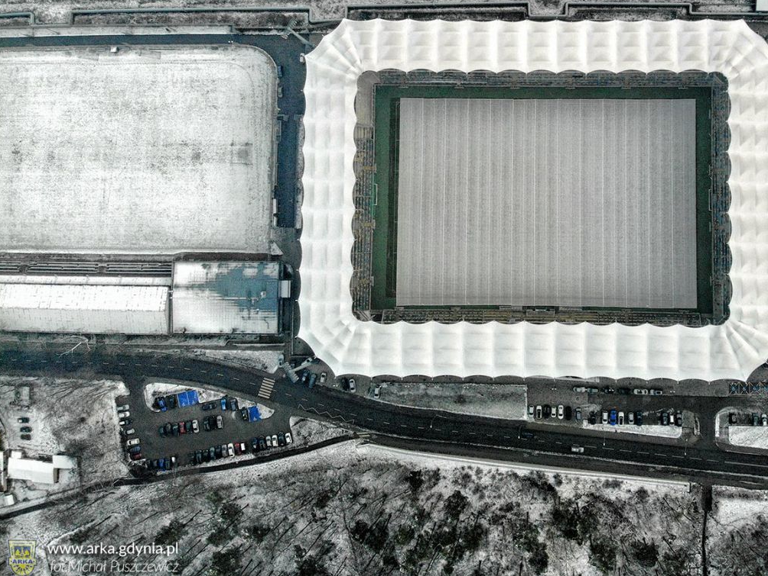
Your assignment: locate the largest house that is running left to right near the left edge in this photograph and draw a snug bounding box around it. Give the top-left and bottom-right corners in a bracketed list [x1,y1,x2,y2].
[3,457,62,485]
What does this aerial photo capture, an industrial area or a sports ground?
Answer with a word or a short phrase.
sports ground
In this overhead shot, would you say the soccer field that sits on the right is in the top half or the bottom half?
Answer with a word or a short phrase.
top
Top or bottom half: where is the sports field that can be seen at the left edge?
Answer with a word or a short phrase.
top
